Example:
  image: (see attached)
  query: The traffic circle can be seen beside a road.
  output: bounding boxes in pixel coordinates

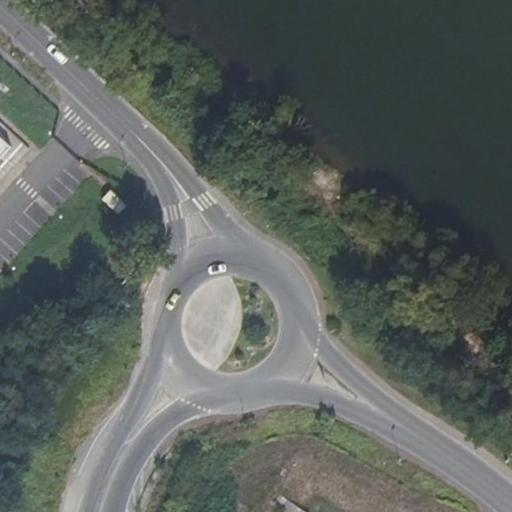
[148,230,322,414]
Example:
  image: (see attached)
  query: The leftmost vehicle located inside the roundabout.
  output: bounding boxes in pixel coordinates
[166,292,180,309]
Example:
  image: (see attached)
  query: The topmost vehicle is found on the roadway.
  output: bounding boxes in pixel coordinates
[47,44,68,64]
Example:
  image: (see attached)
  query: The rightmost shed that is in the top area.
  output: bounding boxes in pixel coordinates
[101,190,126,215]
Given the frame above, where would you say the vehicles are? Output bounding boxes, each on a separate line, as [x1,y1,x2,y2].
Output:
[166,292,180,309]
[208,264,226,274]
[47,44,68,64]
